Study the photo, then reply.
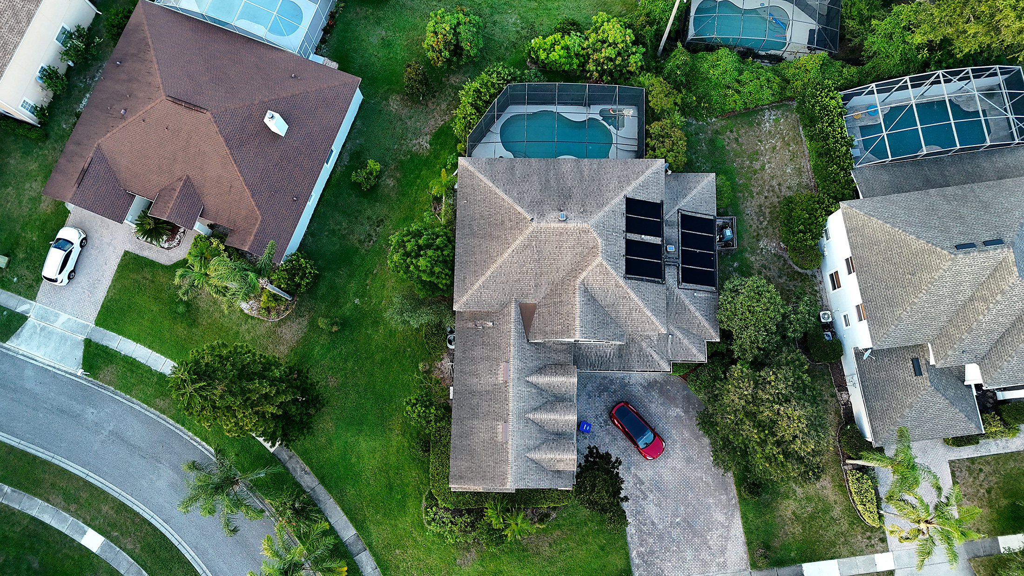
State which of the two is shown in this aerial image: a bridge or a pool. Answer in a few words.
pool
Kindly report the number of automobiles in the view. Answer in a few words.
2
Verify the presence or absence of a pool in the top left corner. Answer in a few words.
Yes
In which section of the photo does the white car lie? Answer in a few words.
left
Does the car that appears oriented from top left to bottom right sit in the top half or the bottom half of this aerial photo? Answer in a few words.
bottom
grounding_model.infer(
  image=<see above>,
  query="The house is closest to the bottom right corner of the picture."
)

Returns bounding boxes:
[819,145,1024,448]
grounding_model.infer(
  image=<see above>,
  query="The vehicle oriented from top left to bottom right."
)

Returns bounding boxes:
[606,396,666,465]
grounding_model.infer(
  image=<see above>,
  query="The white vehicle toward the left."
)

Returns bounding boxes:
[38,226,87,288]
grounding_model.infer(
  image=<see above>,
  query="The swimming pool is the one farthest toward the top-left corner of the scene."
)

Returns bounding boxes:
[173,0,348,63]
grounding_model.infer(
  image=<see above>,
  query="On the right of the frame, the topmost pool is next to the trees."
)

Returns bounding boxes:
[689,0,844,58]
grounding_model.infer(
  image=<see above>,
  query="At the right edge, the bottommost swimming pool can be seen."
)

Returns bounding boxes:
[847,80,1024,173]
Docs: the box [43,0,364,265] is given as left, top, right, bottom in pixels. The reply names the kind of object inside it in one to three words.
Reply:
house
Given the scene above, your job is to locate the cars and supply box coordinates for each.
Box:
[38,226,87,288]
[606,396,666,465]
